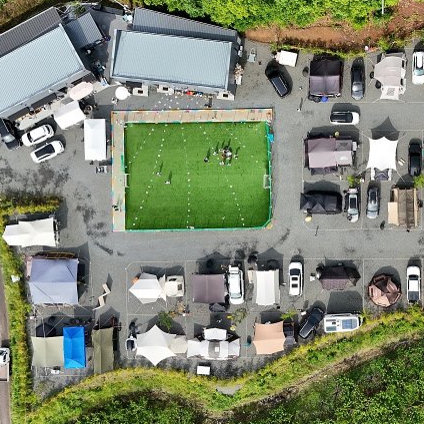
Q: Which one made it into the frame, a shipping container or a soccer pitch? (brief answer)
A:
soccer pitch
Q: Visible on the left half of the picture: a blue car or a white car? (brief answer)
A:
white car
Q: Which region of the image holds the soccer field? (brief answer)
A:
center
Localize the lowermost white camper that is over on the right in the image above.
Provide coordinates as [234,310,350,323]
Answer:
[324,313,362,333]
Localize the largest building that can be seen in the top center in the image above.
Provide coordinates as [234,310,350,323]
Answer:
[111,8,241,93]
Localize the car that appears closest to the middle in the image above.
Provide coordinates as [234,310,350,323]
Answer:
[228,266,245,305]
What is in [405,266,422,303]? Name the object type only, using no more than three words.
vehicle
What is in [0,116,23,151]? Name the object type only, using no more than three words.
car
